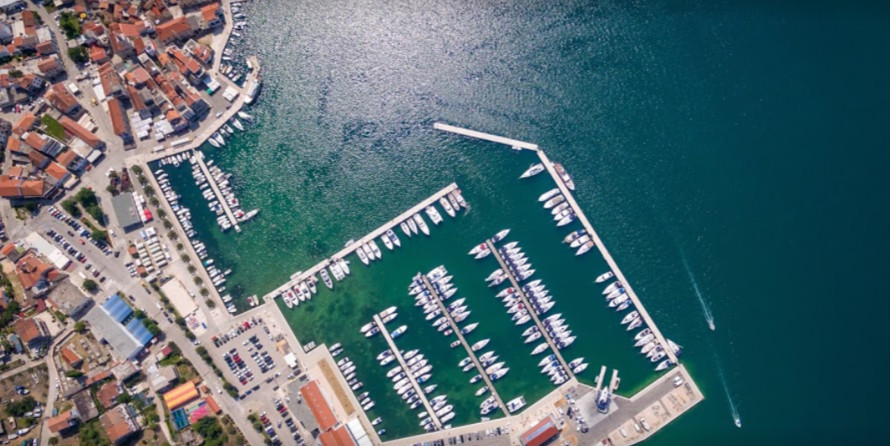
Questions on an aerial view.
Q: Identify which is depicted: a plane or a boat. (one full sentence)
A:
It is a boat that can be seen here.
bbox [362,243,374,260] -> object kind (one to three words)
boat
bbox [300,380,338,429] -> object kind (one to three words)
building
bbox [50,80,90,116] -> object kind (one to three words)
house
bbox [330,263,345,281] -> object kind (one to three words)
boat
